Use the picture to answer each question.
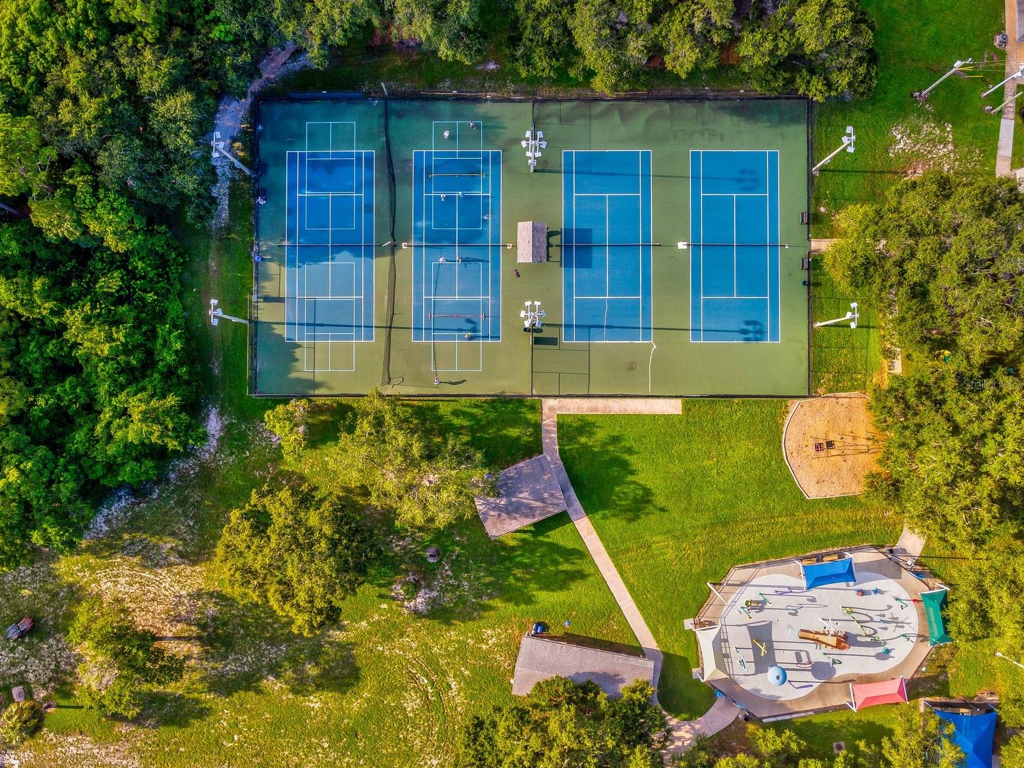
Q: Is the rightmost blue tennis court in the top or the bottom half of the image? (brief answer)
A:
top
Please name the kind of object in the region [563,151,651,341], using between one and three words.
tennis court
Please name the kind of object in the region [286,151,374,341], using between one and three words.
tennis court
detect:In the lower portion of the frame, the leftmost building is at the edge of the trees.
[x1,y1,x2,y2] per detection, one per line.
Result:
[470,454,567,540]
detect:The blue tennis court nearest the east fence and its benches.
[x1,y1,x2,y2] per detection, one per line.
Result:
[691,151,779,341]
